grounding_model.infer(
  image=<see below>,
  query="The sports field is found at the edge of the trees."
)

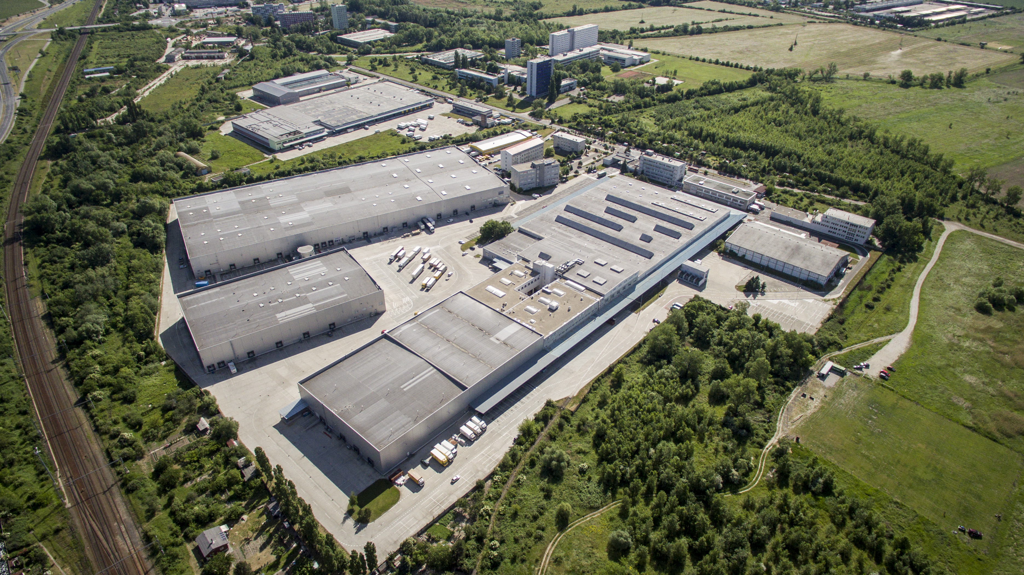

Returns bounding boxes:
[793,373,1020,542]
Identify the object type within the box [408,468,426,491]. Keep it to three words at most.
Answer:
vehicle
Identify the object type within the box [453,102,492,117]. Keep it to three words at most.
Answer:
building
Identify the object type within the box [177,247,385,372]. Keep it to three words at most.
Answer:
warehouse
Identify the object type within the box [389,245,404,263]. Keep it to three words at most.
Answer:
vehicle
